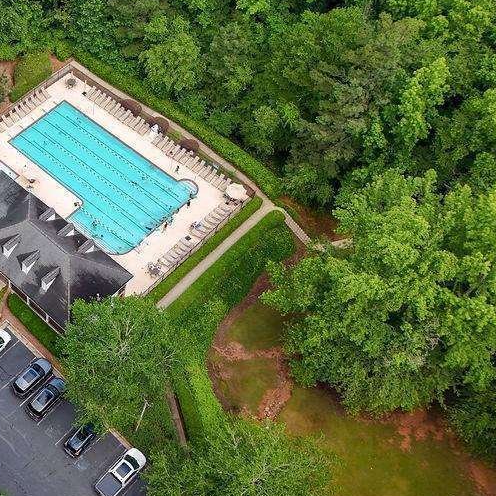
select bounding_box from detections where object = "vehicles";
[10,357,54,400]
[23,379,69,422]
[0,327,16,353]
[61,420,105,460]
[92,445,150,496]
